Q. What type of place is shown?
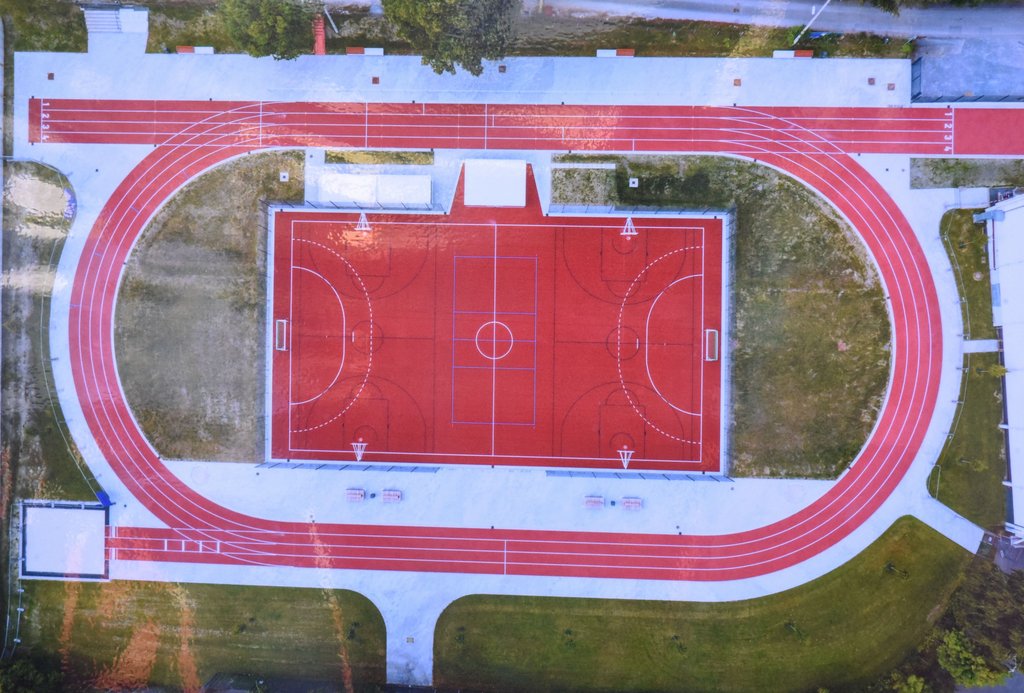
sports ground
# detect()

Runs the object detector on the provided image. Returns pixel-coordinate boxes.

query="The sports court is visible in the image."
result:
[265,163,729,477]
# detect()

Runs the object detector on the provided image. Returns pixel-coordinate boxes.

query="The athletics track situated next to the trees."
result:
[28,98,1024,581]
